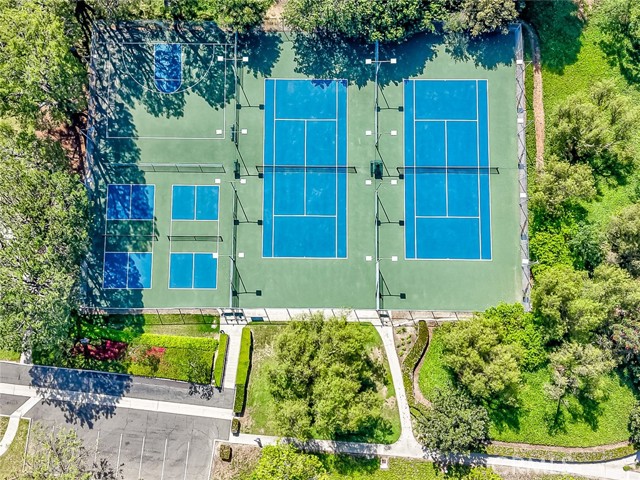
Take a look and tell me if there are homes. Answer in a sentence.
No, no home is visible in the view.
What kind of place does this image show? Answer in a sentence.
What you see here is a sports ground.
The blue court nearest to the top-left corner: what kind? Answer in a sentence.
In the photo, the blue court nearest to the top-left corner shows up as a basketball court.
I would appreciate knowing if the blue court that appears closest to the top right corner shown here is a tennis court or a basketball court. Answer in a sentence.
It looks like the blue court that appears closest to the top right corner is a tennis court.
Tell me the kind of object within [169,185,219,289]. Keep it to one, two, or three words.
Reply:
sports court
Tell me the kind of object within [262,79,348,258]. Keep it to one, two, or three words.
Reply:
tennis court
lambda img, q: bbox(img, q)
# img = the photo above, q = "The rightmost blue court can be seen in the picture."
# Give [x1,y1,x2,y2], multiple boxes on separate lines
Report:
[403,79,491,259]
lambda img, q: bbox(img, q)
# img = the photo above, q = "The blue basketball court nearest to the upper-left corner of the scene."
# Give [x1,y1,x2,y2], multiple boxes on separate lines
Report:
[105,43,236,138]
